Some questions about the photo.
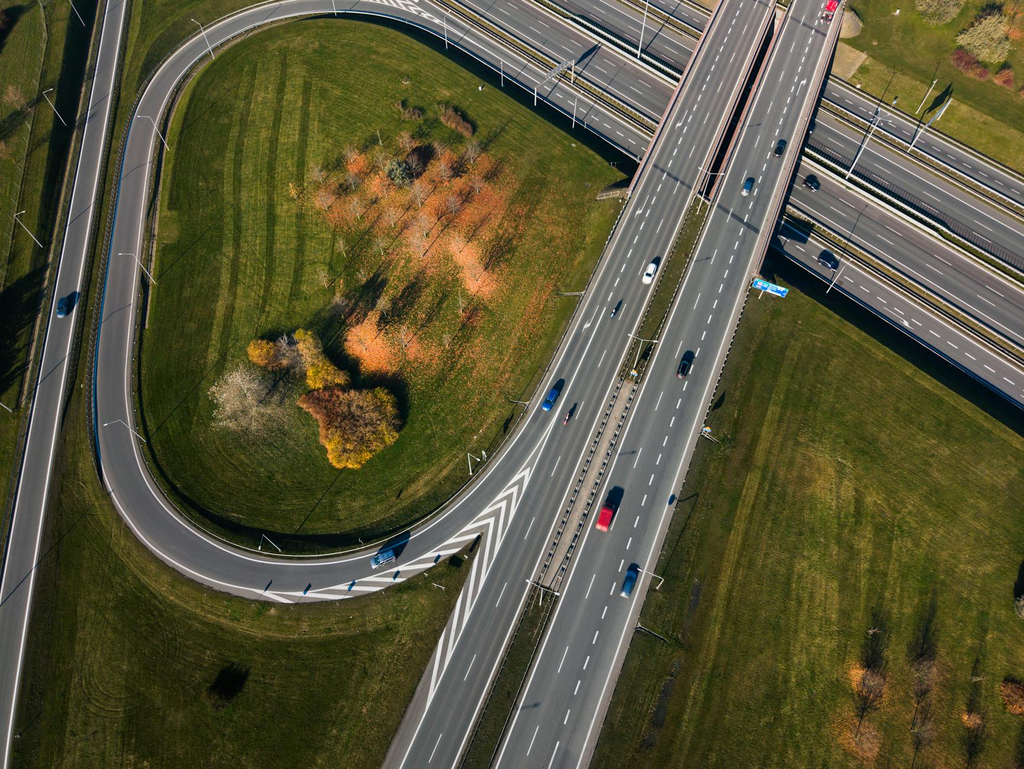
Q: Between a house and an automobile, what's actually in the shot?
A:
automobile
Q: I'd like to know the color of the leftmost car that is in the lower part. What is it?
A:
blue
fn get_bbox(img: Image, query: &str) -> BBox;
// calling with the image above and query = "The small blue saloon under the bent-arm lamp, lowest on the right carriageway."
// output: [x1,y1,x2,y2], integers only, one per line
[620,566,639,596]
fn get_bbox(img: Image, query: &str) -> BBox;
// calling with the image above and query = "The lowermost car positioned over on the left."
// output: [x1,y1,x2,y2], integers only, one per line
[369,548,399,569]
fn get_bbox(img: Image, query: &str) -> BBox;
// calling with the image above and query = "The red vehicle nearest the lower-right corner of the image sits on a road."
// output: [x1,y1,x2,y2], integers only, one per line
[594,500,615,533]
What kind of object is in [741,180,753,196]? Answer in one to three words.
vehicle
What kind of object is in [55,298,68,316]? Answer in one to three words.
vehicle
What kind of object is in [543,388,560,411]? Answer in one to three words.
car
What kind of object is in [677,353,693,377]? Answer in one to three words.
car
